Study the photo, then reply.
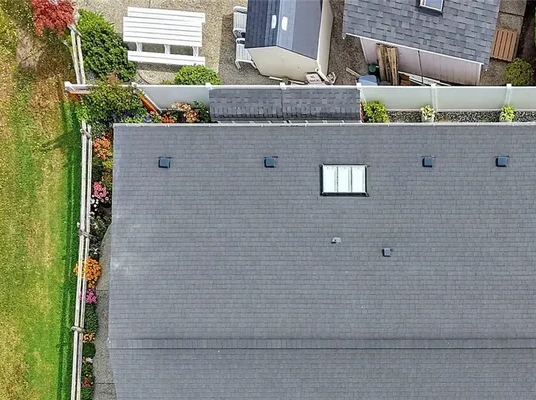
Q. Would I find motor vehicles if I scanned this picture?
No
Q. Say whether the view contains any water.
No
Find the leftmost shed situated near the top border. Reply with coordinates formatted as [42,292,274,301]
[245,0,328,86]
